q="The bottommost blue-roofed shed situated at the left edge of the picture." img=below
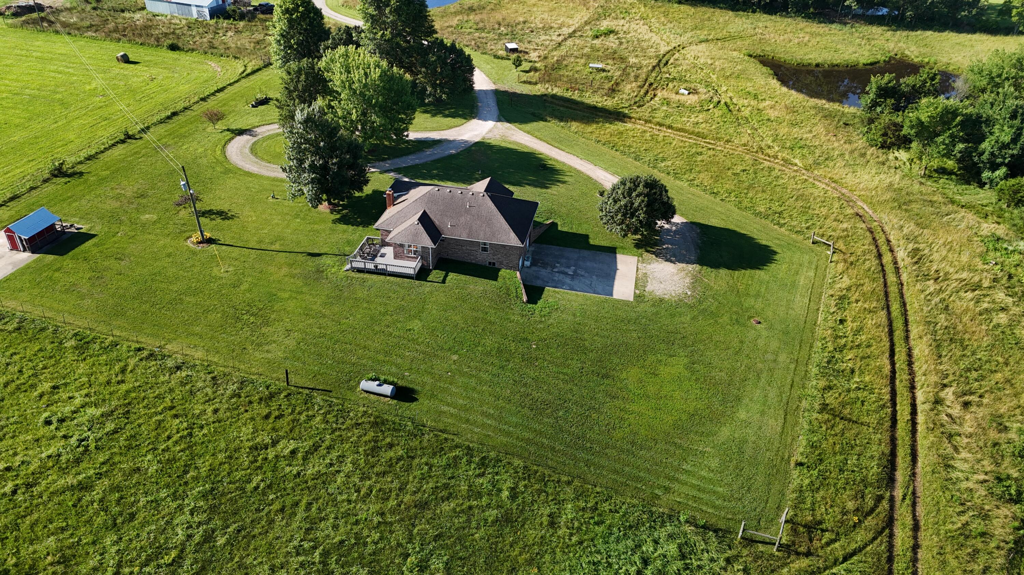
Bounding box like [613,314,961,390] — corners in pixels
[1,206,66,252]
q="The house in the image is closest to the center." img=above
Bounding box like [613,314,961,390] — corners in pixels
[373,176,541,269]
